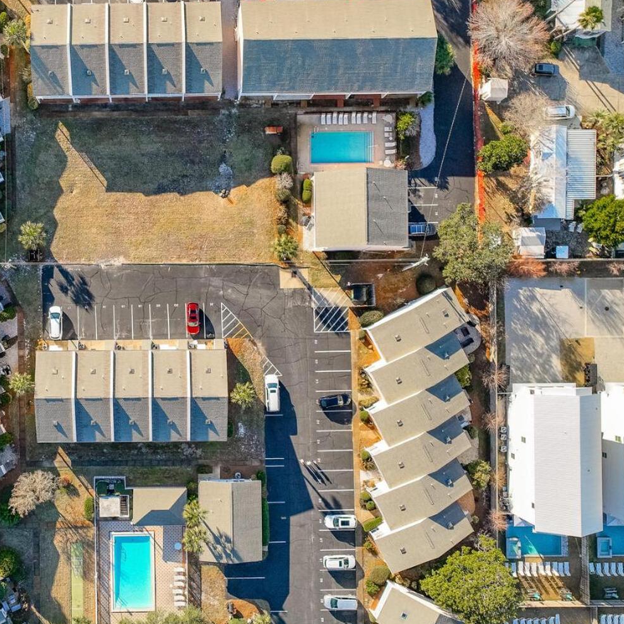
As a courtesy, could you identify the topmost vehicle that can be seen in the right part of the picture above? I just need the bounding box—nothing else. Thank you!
[531,61,559,77]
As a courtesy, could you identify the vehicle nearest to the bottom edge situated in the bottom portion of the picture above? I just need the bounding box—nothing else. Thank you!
[323,594,358,612]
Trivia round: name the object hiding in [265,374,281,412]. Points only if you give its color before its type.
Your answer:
white car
